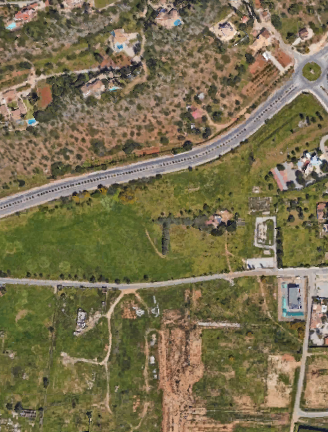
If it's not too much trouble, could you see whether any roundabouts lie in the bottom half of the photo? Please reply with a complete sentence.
No, I see no roundabout in the bottom half of the photo.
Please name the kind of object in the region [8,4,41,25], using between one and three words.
house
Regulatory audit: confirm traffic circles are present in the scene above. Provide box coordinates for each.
[295,55,327,87]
